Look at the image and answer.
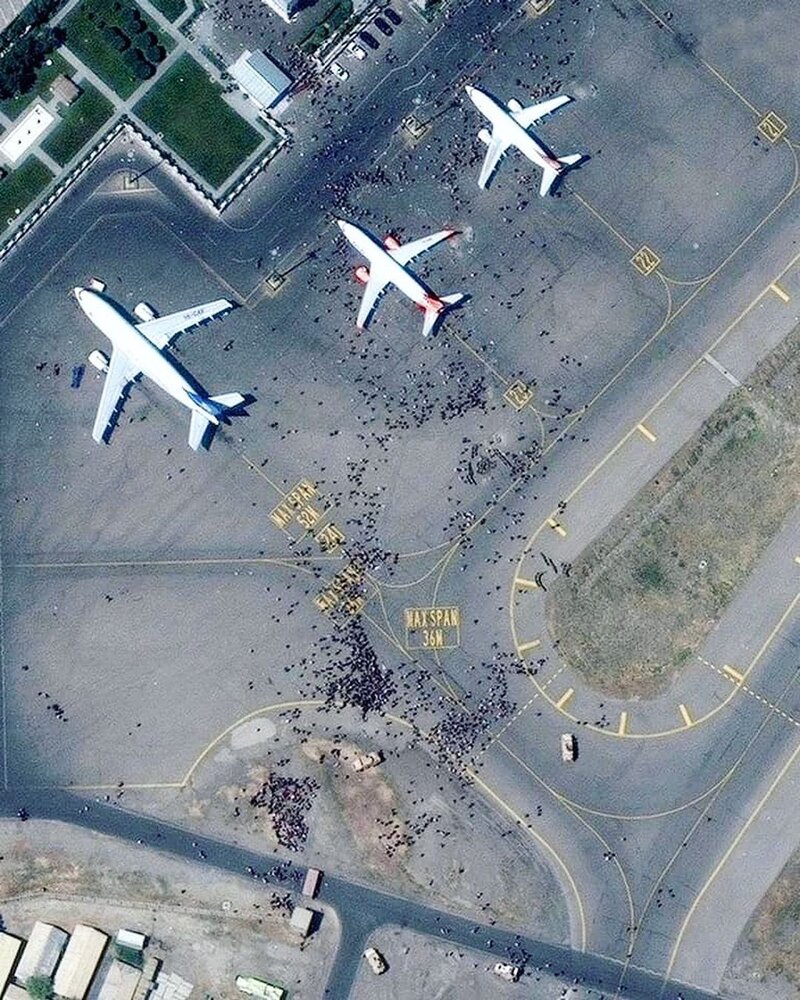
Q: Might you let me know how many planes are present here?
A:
3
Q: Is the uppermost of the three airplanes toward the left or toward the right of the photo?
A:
right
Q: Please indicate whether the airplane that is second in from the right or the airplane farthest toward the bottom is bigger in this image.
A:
the airplane farthest toward the bottom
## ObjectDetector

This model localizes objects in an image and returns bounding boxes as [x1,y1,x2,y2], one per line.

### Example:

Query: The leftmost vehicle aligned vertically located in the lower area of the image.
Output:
[303,868,318,898]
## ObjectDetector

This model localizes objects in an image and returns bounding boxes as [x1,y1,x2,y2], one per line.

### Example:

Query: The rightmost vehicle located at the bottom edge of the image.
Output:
[493,964,520,980]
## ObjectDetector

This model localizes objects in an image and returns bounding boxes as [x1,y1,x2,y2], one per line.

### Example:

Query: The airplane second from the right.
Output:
[337,220,464,332]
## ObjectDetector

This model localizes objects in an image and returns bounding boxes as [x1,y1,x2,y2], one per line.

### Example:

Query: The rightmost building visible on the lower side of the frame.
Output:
[290,905,314,935]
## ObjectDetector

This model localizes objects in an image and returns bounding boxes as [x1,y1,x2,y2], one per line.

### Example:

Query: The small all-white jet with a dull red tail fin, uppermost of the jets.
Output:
[465,87,584,194]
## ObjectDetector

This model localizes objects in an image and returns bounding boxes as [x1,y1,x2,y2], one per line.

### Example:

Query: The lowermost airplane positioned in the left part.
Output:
[73,289,245,448]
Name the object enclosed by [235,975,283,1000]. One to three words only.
bus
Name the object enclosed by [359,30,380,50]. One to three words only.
car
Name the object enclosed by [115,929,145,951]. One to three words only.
shed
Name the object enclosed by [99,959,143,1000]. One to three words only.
building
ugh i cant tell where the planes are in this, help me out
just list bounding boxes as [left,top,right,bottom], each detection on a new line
[73,289,245,448]
[337,220,464,332]
[465,87,584,194]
